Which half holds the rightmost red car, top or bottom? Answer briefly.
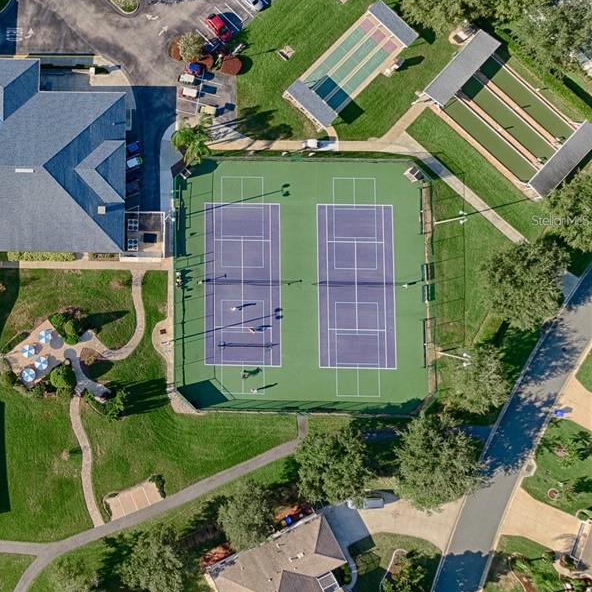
top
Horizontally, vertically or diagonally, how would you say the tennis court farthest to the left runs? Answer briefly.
vertically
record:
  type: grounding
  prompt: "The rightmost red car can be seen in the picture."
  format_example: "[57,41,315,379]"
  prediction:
[204,12,234,43]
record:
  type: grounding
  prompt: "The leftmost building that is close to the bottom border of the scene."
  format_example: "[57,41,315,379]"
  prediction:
[208,512,345,592]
